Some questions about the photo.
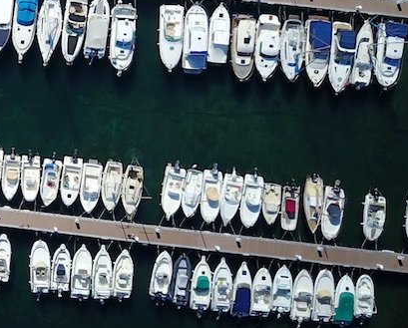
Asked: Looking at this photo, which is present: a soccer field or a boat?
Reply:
boat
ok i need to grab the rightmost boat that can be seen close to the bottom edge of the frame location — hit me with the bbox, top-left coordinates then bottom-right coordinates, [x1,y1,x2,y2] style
[354,267,377,321]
